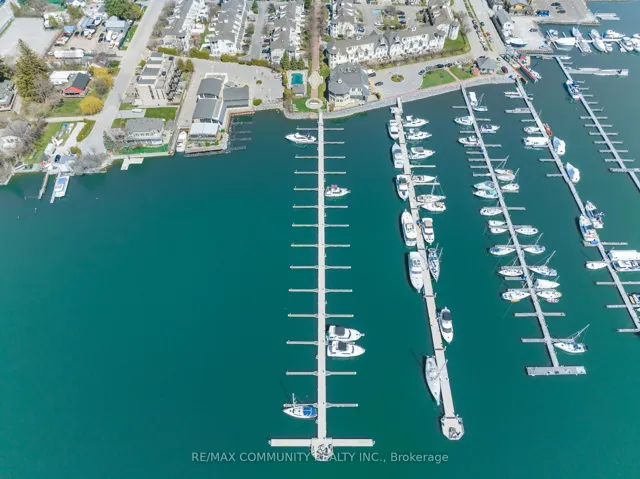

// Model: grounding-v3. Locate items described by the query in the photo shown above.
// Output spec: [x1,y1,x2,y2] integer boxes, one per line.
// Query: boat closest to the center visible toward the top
[324,184,350,196]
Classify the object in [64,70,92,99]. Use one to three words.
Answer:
house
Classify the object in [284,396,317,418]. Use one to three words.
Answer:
boat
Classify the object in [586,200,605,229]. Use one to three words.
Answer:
boat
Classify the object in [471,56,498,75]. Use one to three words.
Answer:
building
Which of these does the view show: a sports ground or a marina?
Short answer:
marina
